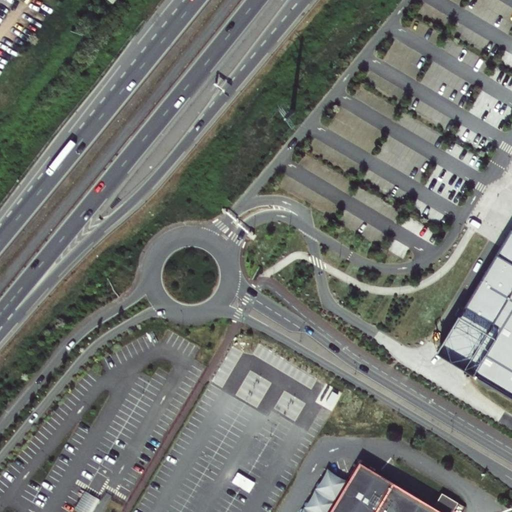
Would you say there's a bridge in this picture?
No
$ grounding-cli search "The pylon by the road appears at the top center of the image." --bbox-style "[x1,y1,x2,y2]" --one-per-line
[278,104,297,128]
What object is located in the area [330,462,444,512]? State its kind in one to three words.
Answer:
building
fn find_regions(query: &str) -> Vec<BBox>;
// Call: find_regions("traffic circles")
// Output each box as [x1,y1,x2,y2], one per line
[128,220,244,324]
